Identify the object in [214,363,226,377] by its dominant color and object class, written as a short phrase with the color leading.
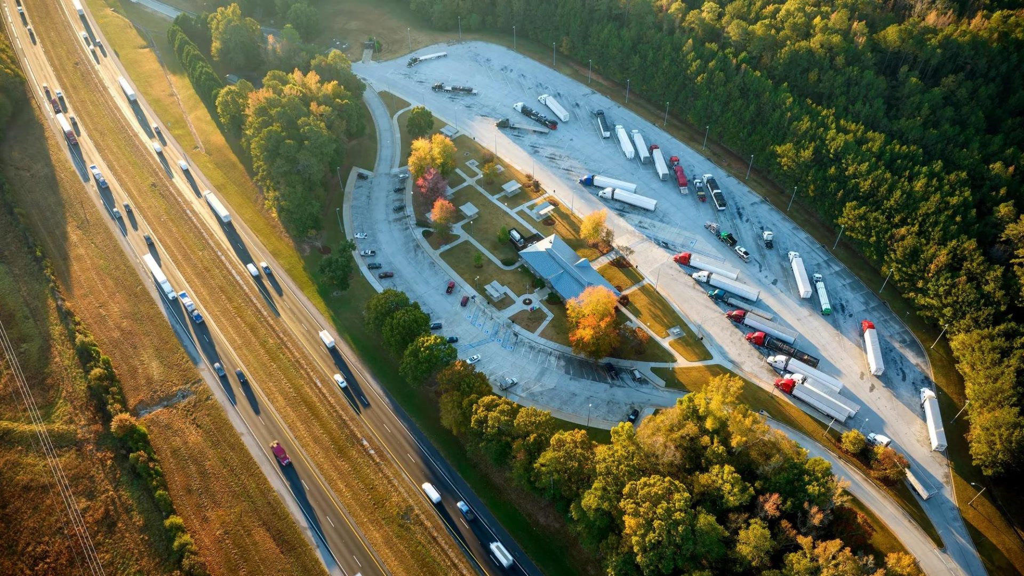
blue vehicle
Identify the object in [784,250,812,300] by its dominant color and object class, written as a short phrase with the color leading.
white truck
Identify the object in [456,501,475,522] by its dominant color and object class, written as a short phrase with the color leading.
blue vehicle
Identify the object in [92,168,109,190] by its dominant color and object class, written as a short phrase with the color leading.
white vehicle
